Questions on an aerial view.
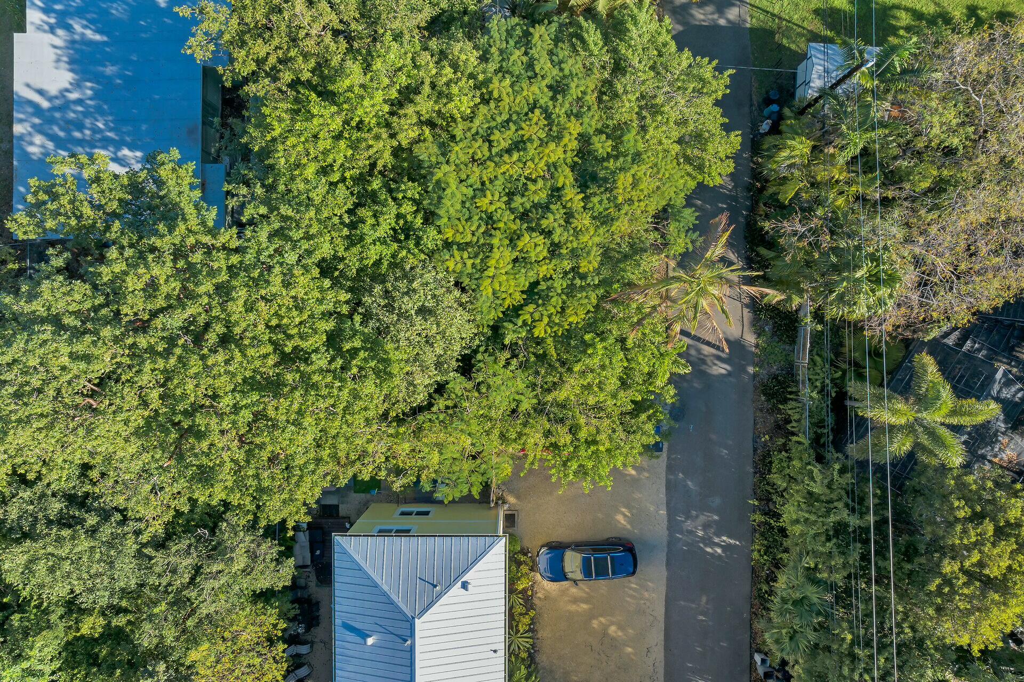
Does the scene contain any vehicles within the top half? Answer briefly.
No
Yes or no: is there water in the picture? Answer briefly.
No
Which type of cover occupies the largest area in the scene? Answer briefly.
trees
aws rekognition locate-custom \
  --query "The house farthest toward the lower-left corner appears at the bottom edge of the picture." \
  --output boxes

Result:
[333,503,506,682]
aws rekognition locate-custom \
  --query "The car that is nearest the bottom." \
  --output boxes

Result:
[534,536,638,588]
